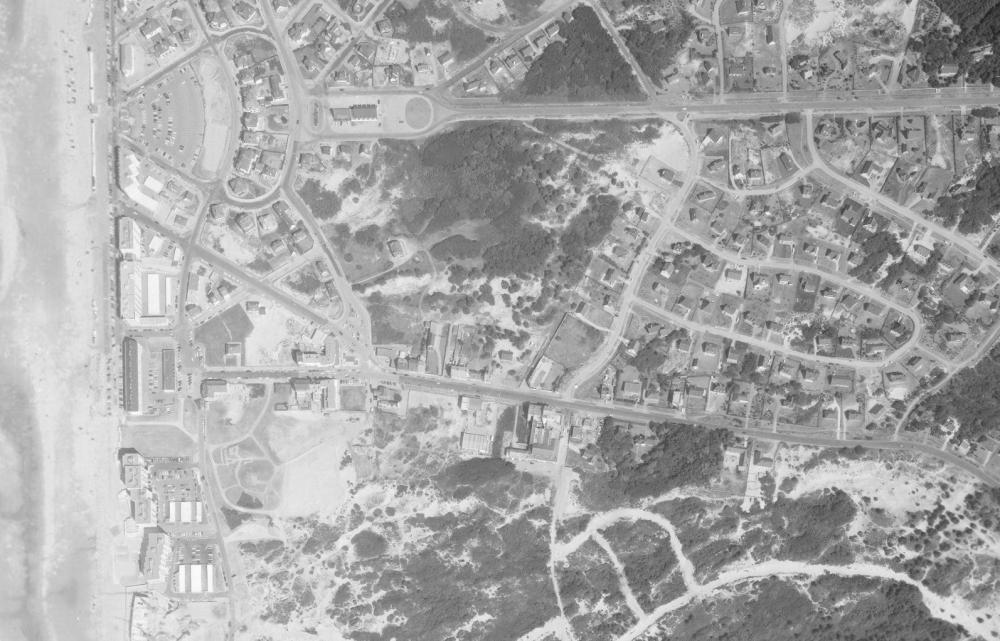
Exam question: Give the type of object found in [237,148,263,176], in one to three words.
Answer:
house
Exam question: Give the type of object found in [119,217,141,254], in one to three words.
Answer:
building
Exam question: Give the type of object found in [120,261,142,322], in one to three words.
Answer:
building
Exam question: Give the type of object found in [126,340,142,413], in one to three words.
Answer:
house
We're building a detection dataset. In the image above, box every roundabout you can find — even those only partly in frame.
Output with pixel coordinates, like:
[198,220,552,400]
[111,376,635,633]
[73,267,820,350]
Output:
[398,94,438,137]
